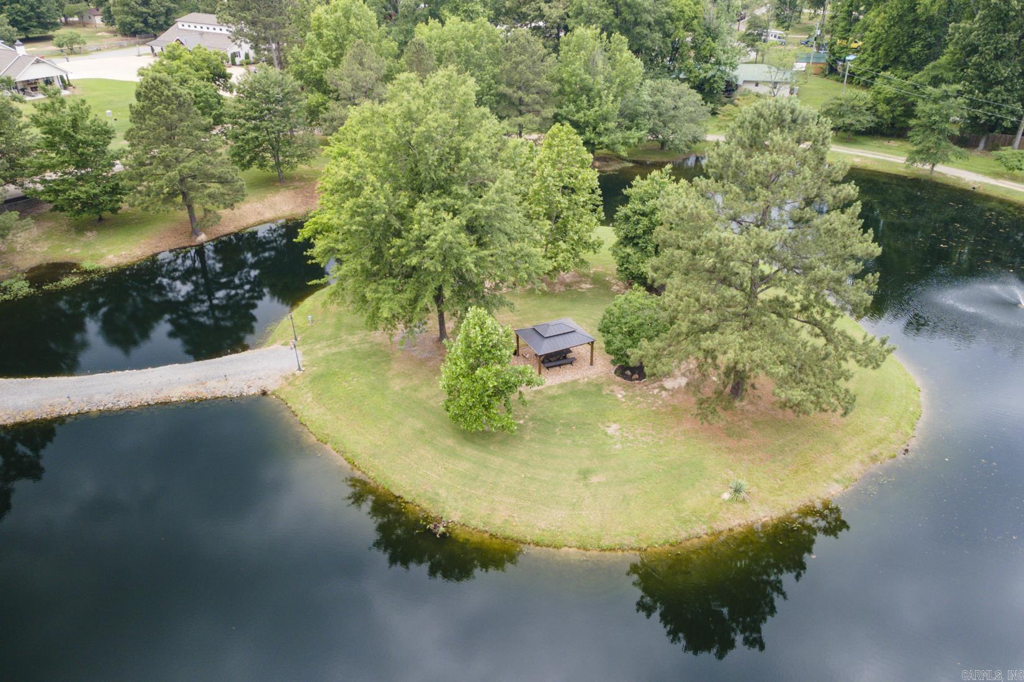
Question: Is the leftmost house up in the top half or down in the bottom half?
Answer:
top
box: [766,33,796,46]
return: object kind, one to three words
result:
vehicle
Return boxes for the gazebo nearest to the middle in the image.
[517,316,598,376]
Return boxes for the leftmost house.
[0,37,72,100]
